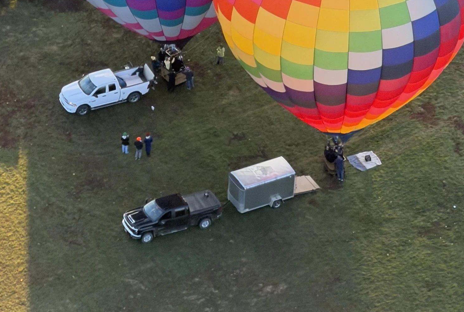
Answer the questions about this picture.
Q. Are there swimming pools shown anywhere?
No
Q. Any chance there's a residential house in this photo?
No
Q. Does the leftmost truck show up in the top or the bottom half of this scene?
top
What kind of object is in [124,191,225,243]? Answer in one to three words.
truck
